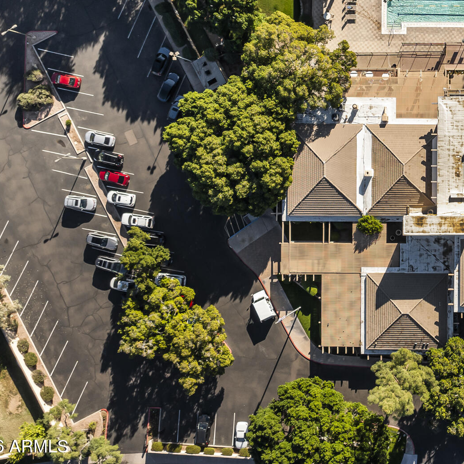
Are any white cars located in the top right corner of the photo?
No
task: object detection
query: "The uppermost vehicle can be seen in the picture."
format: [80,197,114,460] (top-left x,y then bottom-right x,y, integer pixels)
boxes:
[148,46,173,77]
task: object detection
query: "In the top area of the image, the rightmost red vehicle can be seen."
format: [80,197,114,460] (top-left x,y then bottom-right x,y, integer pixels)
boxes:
[99,170,132,187]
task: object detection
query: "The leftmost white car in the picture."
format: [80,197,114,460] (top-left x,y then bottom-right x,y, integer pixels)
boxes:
[64,194,98,212]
